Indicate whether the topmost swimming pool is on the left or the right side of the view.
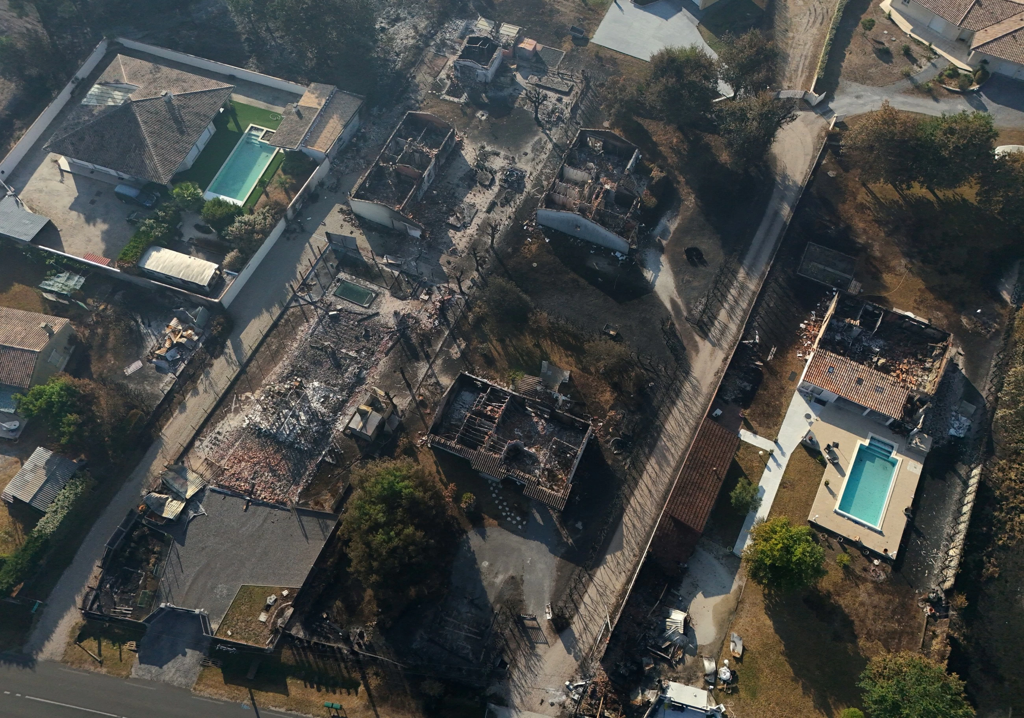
left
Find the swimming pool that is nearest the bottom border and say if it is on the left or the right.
right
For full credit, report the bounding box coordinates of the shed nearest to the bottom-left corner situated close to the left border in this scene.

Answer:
[2,447,79,511]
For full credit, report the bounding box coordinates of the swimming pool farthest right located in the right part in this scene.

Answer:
[834,432,902,529]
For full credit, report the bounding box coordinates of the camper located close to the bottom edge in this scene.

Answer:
[643,682,708,718]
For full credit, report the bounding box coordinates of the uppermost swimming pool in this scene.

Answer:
[204,123,278,206]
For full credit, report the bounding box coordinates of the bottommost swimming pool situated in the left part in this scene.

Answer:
[330,275,382,312]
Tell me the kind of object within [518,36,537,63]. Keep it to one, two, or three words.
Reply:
shed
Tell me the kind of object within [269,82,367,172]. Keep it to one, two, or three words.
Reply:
shed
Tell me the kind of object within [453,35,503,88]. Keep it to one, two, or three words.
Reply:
house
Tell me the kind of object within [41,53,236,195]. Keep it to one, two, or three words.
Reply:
house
